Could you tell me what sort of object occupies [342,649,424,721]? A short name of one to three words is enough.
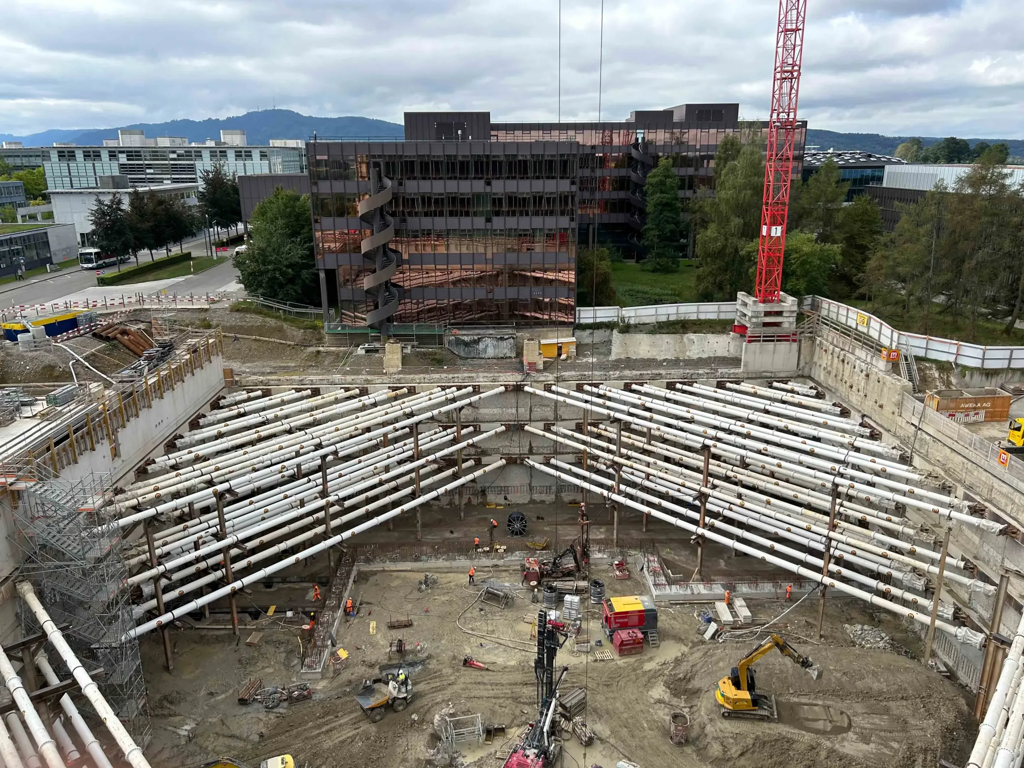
truck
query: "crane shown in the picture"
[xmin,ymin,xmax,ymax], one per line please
[732,0,815,341]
